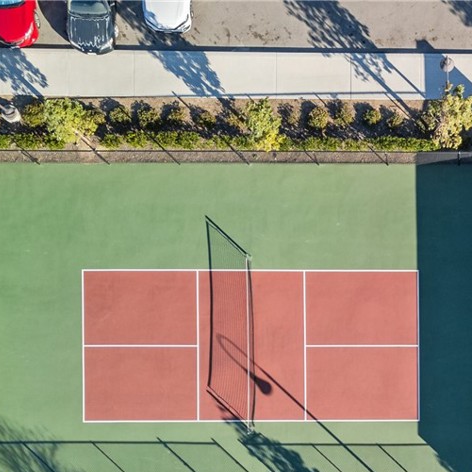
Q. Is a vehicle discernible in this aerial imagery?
Yes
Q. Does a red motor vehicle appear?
Yes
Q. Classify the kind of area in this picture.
sports ground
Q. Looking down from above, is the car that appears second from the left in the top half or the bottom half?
top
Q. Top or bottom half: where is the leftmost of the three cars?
top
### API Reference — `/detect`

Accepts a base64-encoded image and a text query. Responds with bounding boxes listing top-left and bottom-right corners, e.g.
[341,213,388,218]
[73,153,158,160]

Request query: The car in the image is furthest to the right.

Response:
[143,0,196,31]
